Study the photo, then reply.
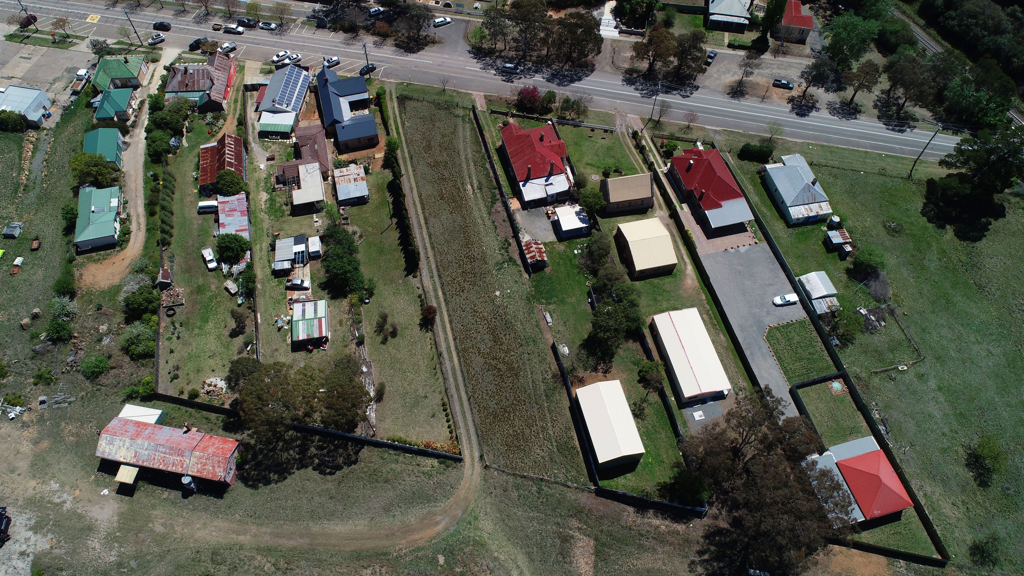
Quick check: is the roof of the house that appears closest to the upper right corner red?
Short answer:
Yes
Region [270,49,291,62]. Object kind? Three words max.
vehicle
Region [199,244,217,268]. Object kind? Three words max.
vehicle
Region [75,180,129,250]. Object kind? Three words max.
house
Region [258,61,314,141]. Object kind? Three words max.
building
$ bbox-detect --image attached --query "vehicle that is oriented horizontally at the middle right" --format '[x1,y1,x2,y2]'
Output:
[771,293,803,308]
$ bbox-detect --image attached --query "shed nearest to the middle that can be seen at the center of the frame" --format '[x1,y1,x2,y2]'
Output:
[521,239,548,268]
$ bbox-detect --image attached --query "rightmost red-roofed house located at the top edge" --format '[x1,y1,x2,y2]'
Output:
[780,0,814,41]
